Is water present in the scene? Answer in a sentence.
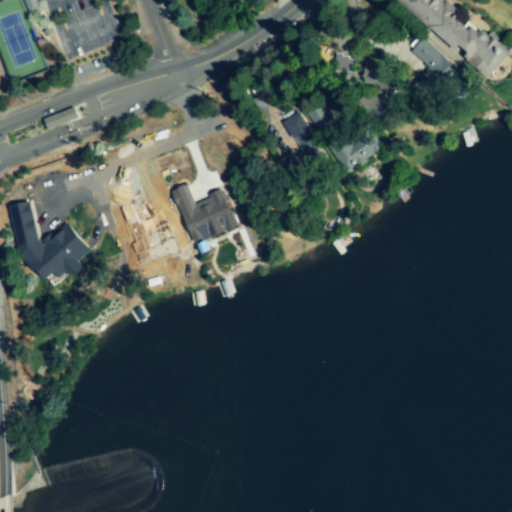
Yes, the picture does contain water.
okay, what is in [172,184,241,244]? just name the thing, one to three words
house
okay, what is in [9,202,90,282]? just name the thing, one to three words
house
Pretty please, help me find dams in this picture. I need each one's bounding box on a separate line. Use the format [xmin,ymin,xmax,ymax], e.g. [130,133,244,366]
[13,448,164,512]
